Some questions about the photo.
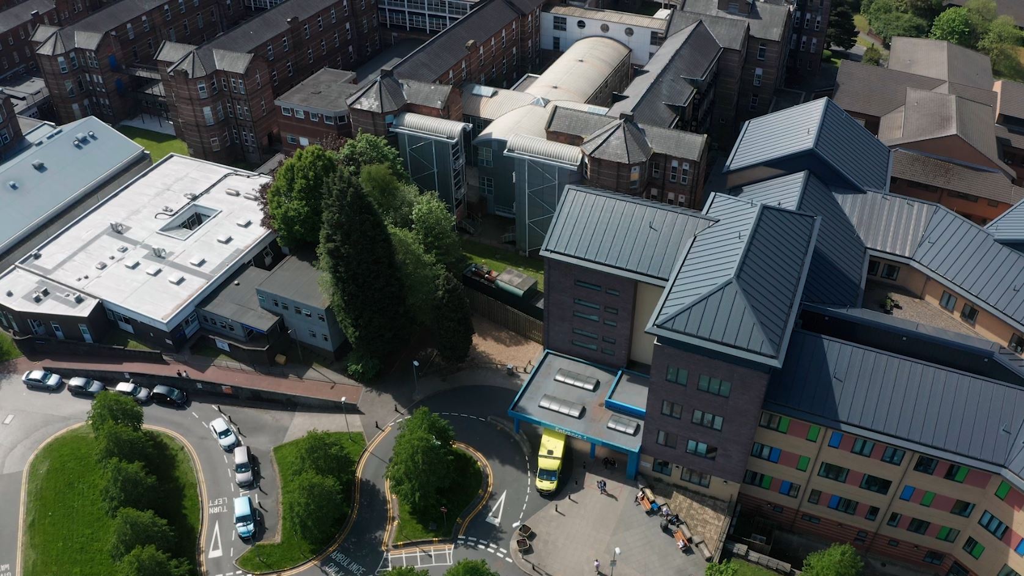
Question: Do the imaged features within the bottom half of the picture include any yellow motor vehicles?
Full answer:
Yes, a yellow motor vehicle shows up within the bottom half of the picture.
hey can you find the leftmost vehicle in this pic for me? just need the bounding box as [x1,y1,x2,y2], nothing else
[17,372,67,393]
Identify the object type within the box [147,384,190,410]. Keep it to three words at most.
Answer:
car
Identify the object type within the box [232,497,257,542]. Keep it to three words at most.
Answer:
car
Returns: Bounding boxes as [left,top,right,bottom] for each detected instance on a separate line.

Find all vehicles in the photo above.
[147,384,190,410]
[232,497,257,542]
[63,377,108,399]
[208,416,240,455]
[17,372,67,393]
[114,379,151,406]
[535,430,568,492]
[232,446,255,488]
